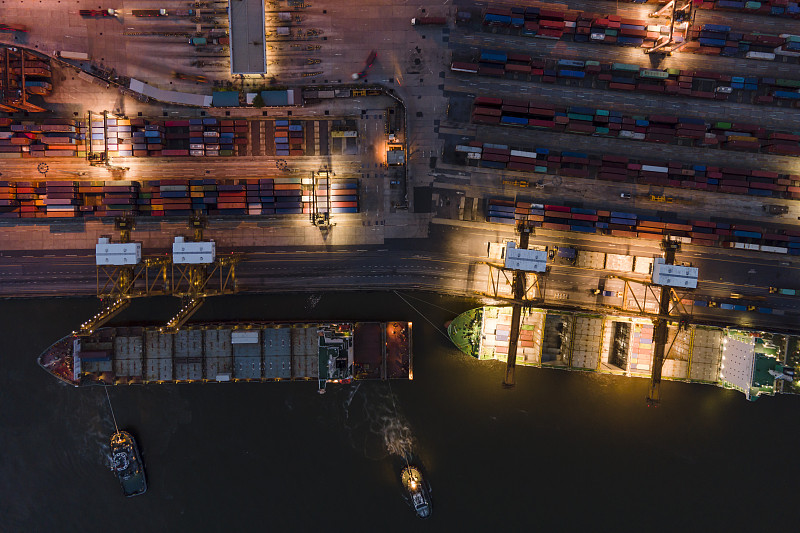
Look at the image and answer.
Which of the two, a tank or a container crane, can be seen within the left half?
container crane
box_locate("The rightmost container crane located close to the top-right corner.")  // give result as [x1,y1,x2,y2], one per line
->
[642,0,693,58]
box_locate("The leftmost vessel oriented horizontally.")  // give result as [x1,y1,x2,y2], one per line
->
[38,320,413,392]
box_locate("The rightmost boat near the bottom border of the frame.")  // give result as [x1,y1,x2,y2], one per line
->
[400,458,433,519]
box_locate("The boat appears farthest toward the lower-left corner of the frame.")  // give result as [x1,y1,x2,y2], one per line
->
[108,432,146,498]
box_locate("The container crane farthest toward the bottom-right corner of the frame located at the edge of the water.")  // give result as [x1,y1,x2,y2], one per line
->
[598,234,698,406]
